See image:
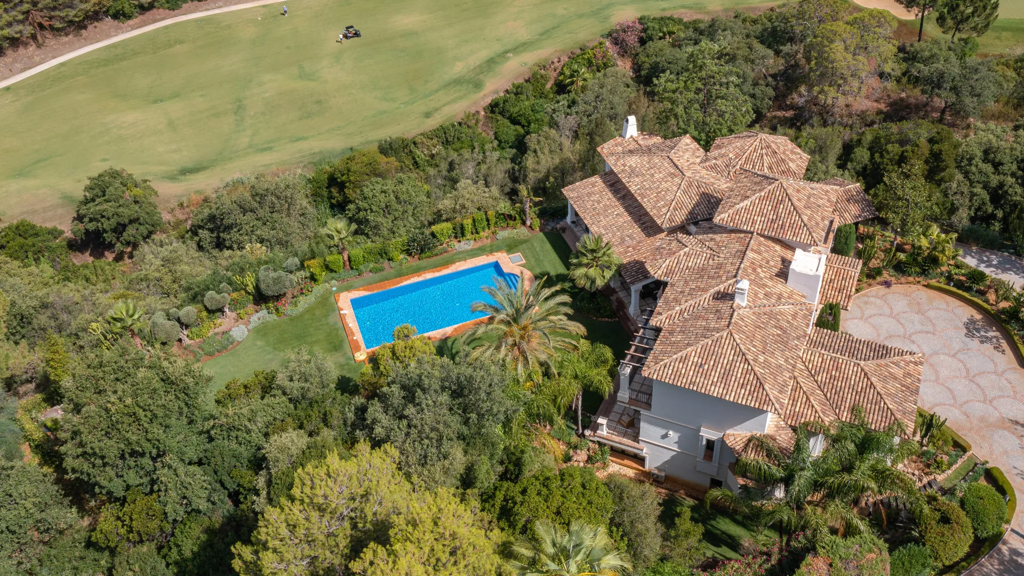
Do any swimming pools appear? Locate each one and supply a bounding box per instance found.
[334,244,540,364]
